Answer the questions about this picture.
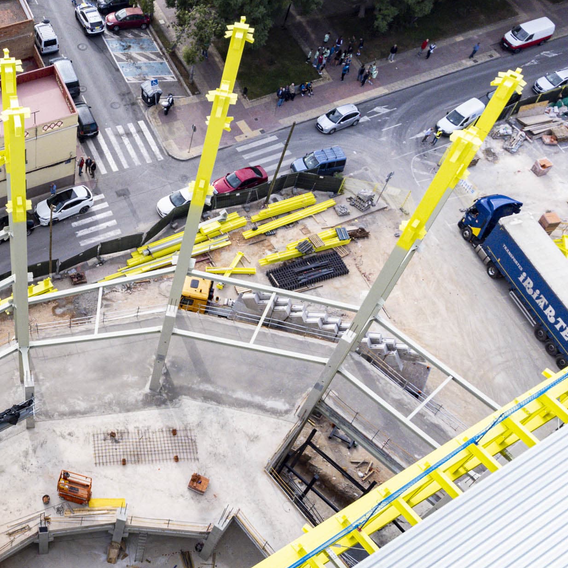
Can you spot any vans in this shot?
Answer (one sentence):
Yes, there's a van here.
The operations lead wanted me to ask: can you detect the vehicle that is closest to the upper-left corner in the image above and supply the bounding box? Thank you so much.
[34,16,62,54]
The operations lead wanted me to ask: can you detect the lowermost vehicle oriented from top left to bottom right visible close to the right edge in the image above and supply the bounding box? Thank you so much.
[448,195,568,377]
